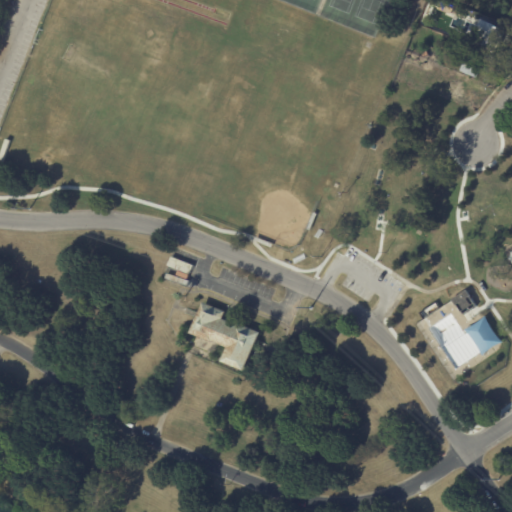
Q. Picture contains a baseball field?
Yes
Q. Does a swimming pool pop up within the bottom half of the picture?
Yes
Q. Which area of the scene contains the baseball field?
center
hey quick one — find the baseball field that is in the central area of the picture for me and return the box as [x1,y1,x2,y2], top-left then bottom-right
[258,190,310,247]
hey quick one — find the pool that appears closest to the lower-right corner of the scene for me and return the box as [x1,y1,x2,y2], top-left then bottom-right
[418,302,504,380]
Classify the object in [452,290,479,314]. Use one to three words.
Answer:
building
